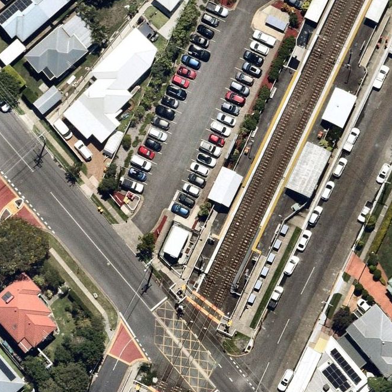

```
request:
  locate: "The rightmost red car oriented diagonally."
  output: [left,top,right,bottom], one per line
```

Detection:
[225,92,244,108]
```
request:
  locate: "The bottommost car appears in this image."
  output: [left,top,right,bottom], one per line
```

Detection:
[279,371,293,391]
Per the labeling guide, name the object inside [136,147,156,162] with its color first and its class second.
red car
